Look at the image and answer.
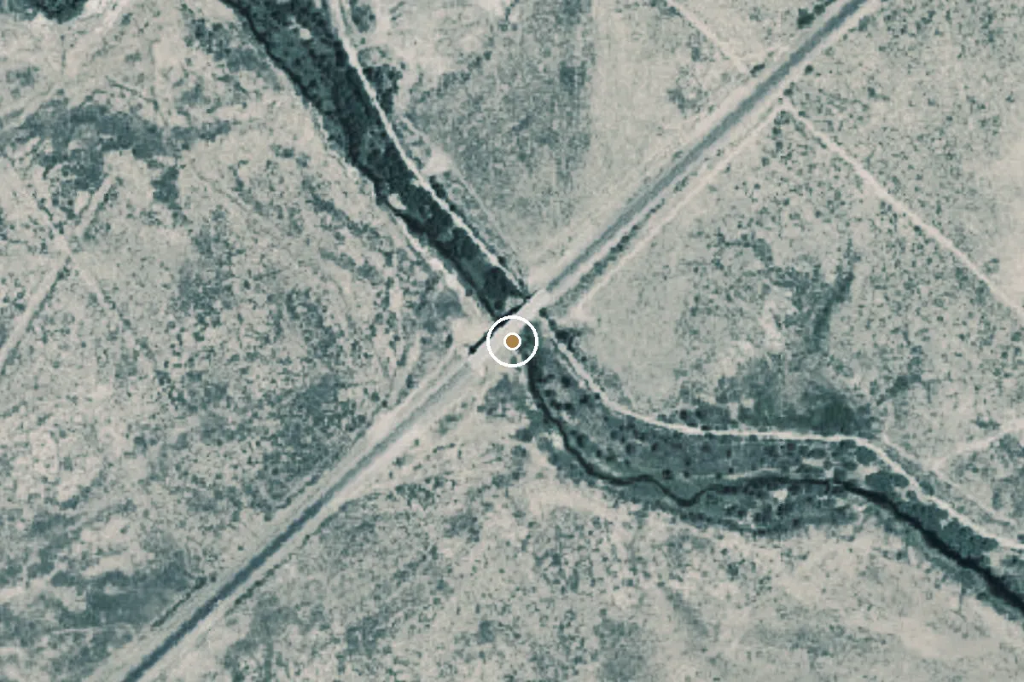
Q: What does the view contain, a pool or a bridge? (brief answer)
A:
bridge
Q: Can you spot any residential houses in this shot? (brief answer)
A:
No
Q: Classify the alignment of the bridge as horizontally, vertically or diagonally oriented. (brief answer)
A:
diagonally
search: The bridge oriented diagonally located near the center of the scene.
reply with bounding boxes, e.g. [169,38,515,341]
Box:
[464,285,557,374]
